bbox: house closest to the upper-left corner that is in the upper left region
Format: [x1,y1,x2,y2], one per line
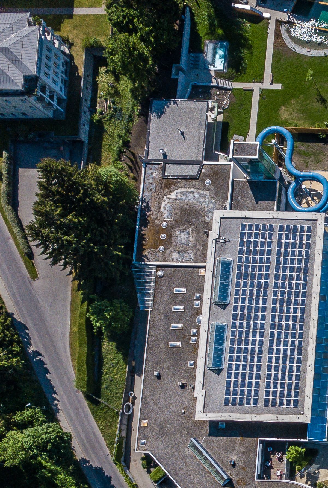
[0,13,65,110]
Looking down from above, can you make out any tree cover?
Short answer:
Yes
